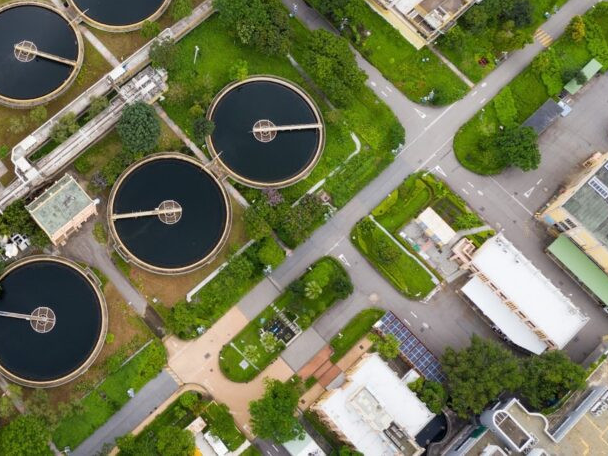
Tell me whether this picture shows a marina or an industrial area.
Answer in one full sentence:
The picture captures an industrial area.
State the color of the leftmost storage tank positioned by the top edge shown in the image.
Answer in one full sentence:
In this view, the leftmost storage tank positioned by the top edge is black.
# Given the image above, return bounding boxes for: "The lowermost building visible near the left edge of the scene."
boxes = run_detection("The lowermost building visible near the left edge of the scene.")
[24,170,95,240]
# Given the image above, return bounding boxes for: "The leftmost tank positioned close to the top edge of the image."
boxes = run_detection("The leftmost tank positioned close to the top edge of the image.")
[0,1,84,108]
